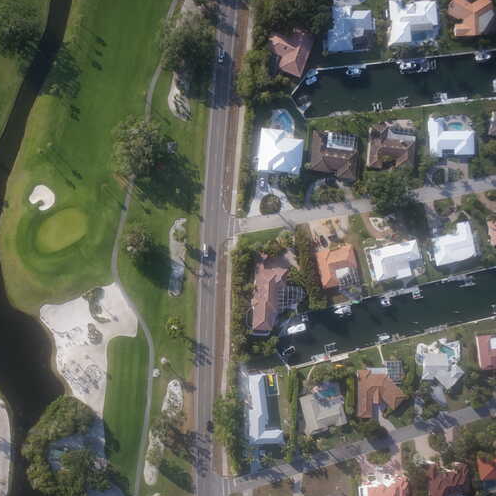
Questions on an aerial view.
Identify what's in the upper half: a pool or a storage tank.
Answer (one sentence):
What appears in the upper half is a pool.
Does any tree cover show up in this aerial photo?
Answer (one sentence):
Yes, there is tree cover in the image.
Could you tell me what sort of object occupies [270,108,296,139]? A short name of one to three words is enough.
swimming pool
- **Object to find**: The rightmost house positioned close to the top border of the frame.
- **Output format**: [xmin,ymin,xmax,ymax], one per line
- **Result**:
[447,0,496,36]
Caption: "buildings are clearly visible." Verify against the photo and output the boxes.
[310,131,360,179]
[428,117,475,157]
[252,255,292,332]
[258,129,302,173]
[365,128,417,169]
[299,390,351,436]
[249,373,285,445]
[269,28,312,78]
[428,461,471,496]
[313,242,360,289]
[474,335,496,370]
[433,222,478,264]
[328,6,371,52]
[389,1,438,44]
[421,352,461,390]
[368,241,423,281]
[356,370,409,417]
[447,0,496,36]
[368,475,411,496]
[475,457,496,482]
